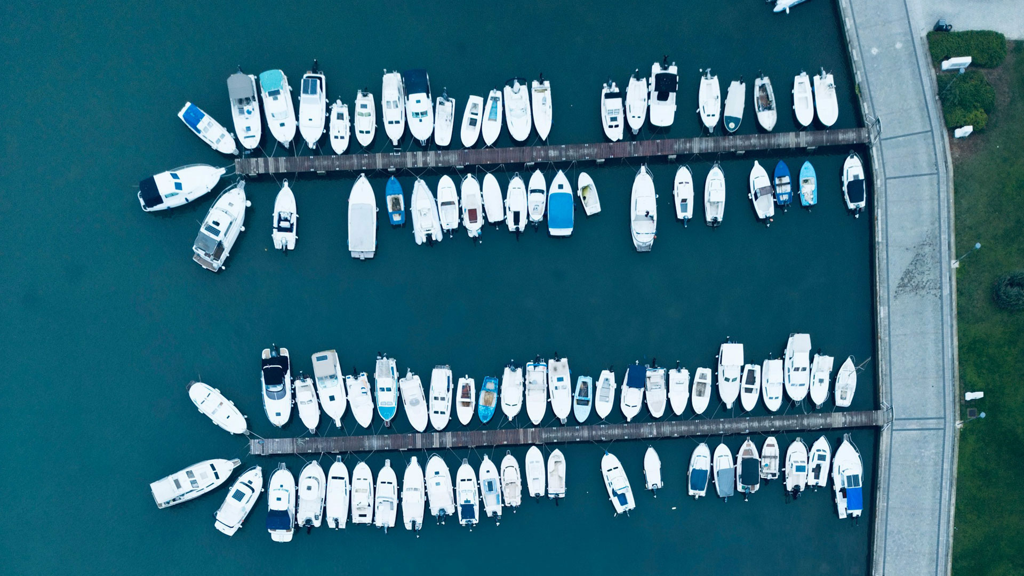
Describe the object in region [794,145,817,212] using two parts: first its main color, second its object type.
blue boat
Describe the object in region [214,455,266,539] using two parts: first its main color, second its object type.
white boat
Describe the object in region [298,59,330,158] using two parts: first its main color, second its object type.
white boat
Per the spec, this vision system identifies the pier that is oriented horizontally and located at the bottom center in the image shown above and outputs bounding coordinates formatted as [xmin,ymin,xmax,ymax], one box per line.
[250,410,879,456]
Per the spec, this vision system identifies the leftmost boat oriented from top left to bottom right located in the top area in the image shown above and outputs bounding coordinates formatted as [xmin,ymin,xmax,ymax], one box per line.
[177,101,240,160]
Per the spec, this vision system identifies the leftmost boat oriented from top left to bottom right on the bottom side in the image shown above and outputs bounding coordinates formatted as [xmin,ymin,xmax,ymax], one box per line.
[185,378,263,440]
